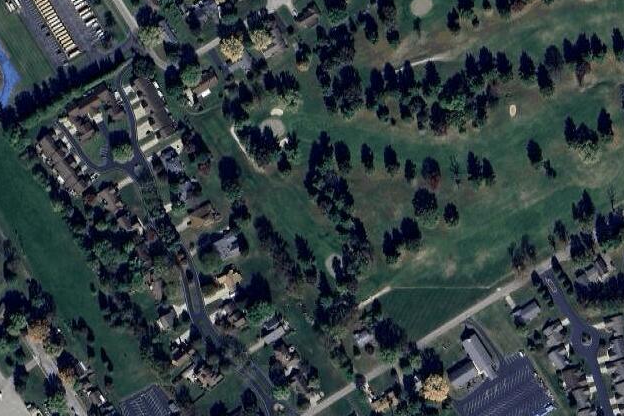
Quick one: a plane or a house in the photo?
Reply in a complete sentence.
Looking from above, you can make out a house.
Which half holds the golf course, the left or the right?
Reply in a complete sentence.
It is on the right.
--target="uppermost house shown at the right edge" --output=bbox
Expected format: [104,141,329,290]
[573,260,610,287]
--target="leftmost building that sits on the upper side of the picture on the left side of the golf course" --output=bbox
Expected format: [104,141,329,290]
[38,135,94,197]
